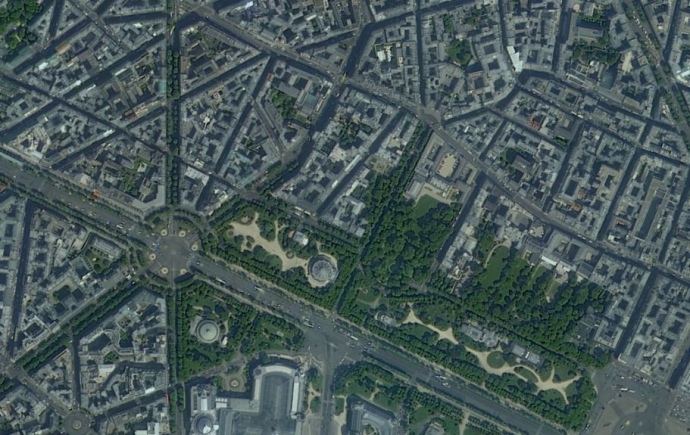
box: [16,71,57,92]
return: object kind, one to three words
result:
building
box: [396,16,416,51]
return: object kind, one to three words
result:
building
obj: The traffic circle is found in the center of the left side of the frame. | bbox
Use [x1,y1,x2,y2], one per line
[139,219,206,286]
